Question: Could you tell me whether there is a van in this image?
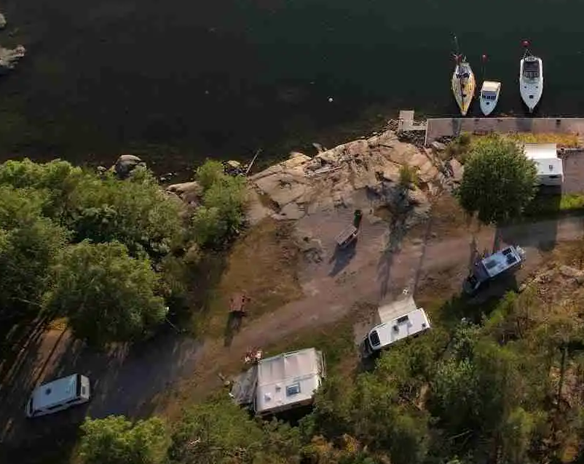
Yes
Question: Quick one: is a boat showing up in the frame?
Yes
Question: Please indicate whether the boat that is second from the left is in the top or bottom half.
top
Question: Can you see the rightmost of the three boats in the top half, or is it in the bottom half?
top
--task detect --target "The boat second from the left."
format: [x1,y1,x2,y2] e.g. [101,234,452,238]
[479,81,501,117]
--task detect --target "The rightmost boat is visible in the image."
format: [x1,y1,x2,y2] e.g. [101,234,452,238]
[518,47,544,114]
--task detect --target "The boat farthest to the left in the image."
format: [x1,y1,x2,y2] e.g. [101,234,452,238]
[447,35,476,117]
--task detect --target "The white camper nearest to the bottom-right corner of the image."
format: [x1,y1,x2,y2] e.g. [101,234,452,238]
[367,295,435,359]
